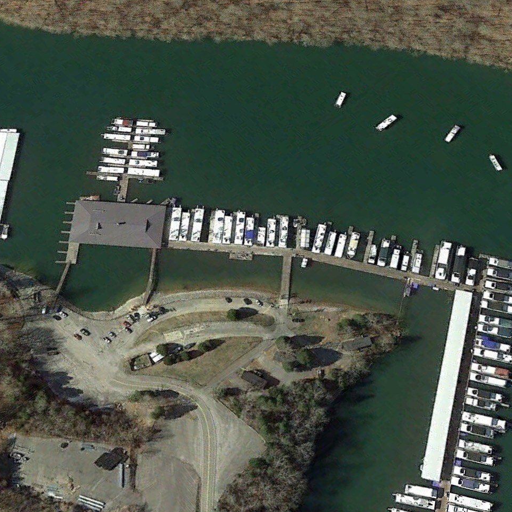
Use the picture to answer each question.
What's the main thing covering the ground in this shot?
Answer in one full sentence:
The largest share of the image is taken up by water.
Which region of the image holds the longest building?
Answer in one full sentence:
The longest building is in the left part of the image.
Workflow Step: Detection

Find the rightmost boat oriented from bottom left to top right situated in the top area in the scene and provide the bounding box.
[445,124,461,143]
